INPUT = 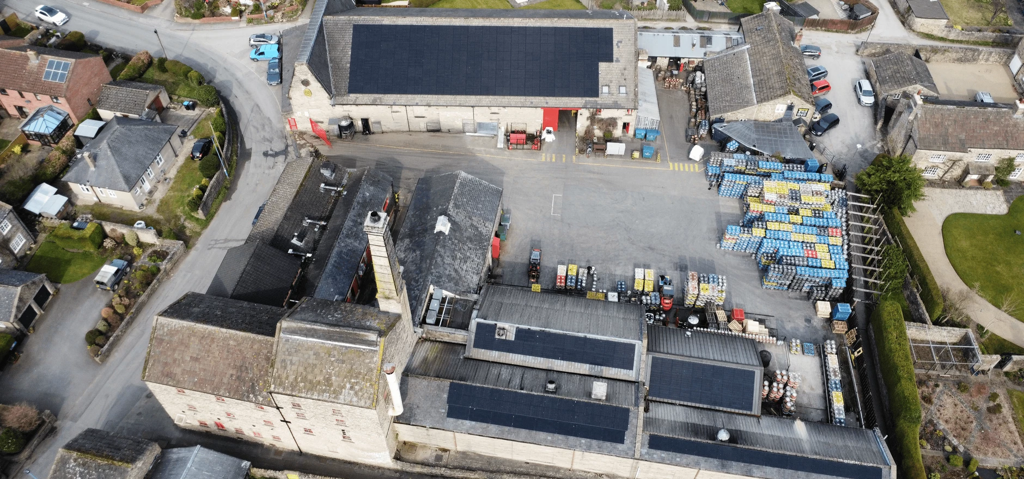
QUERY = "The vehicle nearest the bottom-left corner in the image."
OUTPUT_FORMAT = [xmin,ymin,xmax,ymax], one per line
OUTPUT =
[87,254,131,293]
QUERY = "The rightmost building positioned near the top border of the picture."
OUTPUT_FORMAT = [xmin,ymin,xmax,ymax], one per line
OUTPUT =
[990,16,1024,94]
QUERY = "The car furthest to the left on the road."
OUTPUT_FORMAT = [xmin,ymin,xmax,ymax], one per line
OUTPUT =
[31,3,66,25]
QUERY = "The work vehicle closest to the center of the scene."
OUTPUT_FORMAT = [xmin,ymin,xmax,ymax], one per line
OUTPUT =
[529,247,541,282]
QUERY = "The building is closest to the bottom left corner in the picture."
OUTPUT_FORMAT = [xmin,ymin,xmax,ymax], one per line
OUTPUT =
[51,428,166,479]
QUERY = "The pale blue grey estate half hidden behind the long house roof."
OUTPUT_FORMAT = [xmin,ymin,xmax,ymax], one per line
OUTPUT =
[967,83,1004,101]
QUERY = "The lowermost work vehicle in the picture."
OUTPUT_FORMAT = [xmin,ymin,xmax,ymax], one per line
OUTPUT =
[658,279,677,315]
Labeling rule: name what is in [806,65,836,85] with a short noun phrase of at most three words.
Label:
car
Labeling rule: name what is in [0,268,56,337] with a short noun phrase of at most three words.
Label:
building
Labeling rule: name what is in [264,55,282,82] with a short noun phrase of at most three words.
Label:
car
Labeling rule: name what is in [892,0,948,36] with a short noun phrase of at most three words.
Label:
barn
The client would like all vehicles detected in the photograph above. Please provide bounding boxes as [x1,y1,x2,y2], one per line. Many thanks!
[811,96,840,116]
[806,65,836,85]
[245,30,280,48]
[854,75,877,106]
[810,80,838,100]
[189,135,211,161]
[529,247,541,282]
[247,43,282,63]
[967,83,1004,101]
[658,279,677,315]
[264,55,282,82]
[812,110,845,136]
[587,142,593,157]
[31,3,66,25]
[87,254,131,293]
